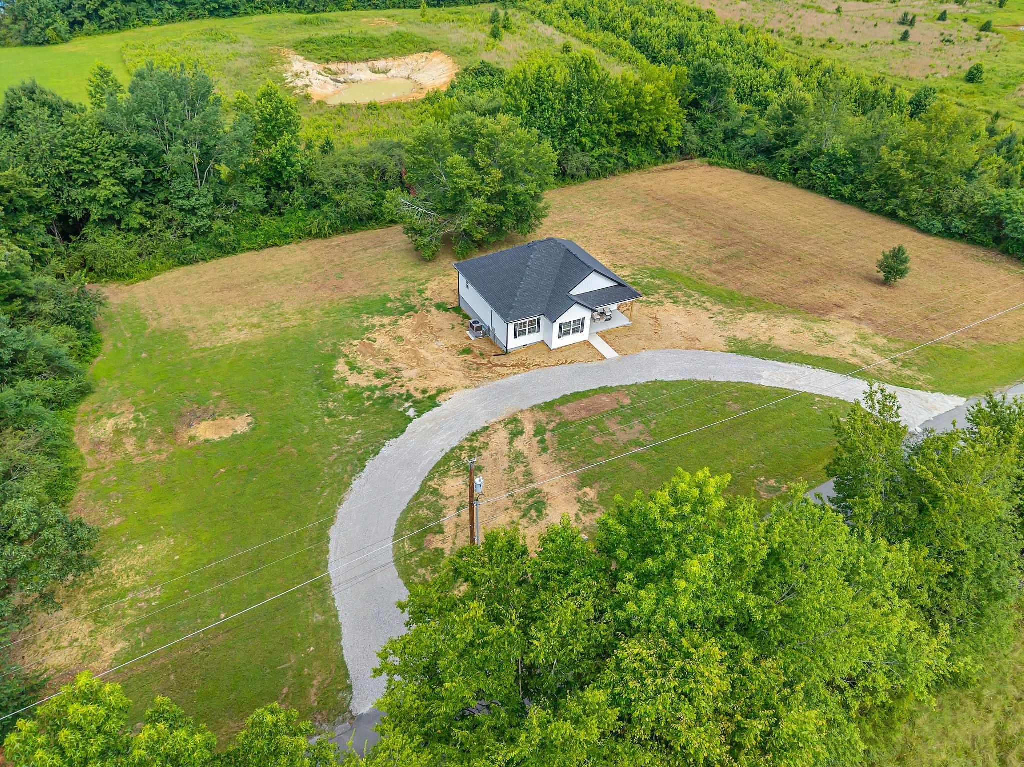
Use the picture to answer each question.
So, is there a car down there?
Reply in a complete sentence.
No, I can see no car in this picture.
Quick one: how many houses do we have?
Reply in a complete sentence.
The picture shows 1 house.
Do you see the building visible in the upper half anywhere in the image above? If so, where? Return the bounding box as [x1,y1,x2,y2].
[446,234,643,353]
